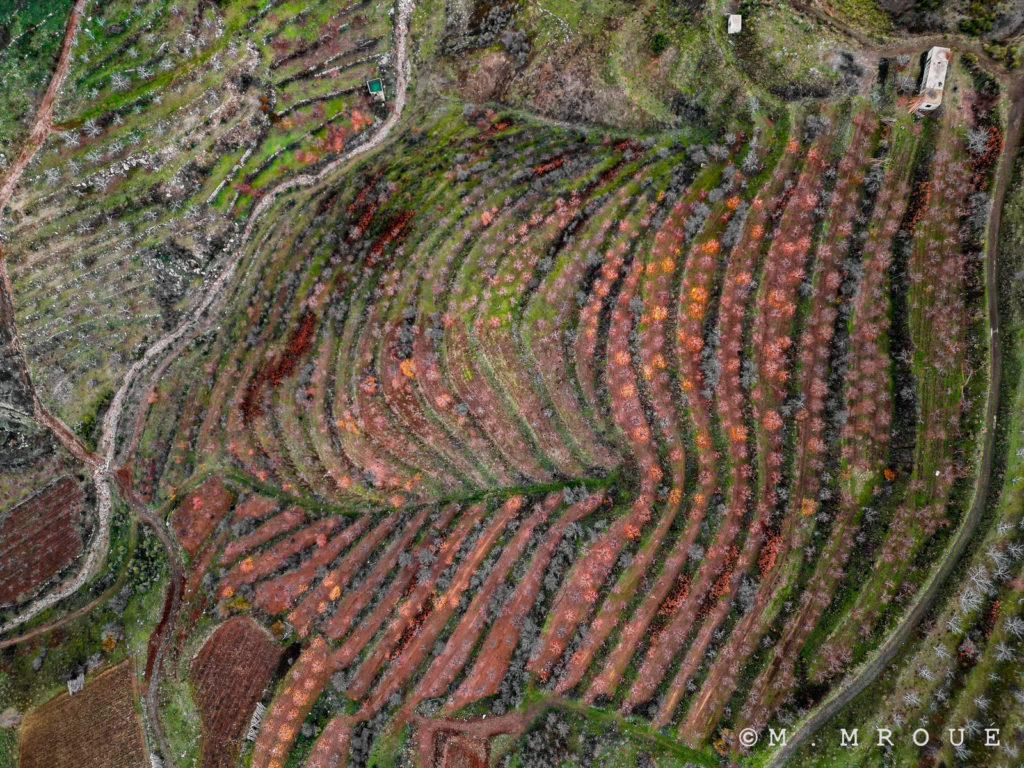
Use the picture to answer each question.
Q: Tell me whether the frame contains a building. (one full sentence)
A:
Yes, a building can be made out from above.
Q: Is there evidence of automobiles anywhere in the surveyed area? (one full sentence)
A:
No, I find no automobile anywhere in the image.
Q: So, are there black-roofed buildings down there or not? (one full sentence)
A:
No, no black-roofed building is visible in the scene.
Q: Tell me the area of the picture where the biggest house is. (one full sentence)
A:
The biggest house is located in the top right region of the scene.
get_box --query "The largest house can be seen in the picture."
[915,46,951,110]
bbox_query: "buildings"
[915,46,951,110]
[727,14,742,33]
